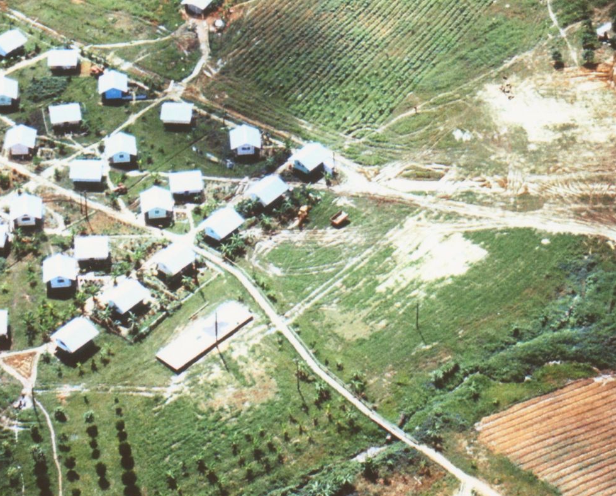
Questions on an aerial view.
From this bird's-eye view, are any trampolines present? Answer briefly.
No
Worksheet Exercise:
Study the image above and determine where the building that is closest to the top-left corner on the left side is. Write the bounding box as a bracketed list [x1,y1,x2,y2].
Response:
[0,31,28,66]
